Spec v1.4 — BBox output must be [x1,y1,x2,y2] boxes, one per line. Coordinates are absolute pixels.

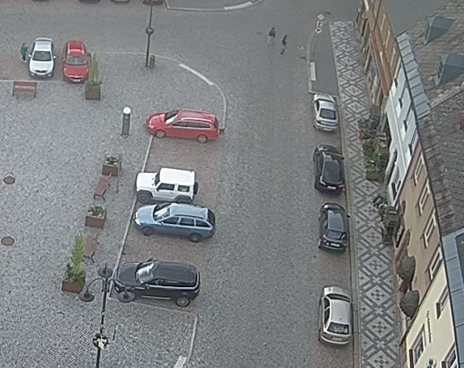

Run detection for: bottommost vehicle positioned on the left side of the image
[116,263,198,305]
